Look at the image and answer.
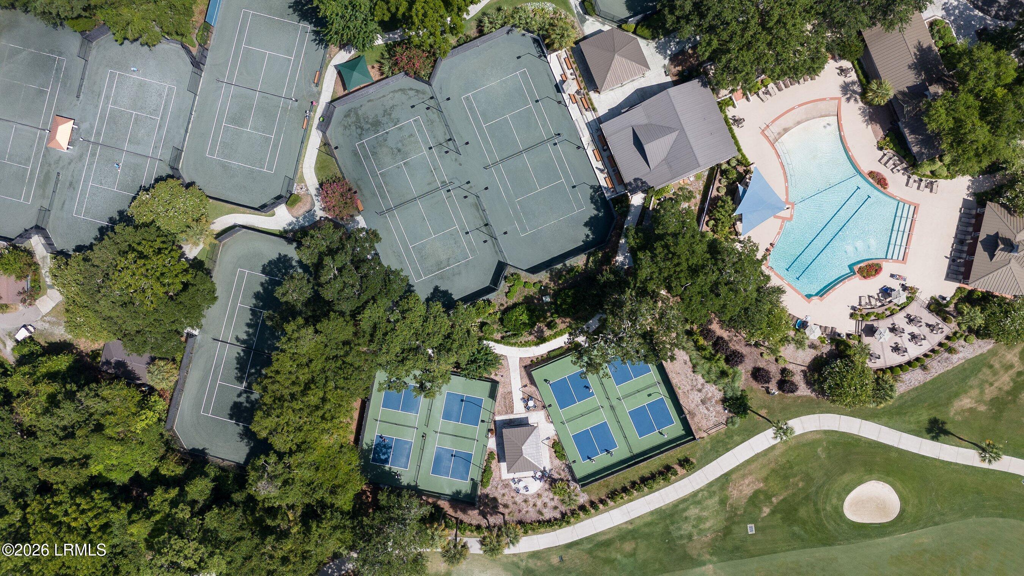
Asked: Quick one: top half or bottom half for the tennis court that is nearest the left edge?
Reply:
top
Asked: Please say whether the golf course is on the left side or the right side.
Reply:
right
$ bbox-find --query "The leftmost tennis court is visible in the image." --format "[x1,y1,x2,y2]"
[0,1,92,238]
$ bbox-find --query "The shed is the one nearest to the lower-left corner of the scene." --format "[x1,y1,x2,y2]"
[100,343,160,383]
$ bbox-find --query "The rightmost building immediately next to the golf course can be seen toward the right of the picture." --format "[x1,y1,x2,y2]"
[957,202,1024,298]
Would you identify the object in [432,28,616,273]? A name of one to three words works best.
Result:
tennis court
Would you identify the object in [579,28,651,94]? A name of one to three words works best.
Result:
building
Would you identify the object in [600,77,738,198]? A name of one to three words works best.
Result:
building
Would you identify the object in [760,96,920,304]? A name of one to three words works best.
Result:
swimming pool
